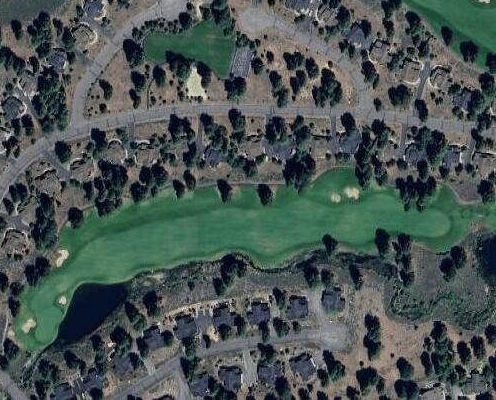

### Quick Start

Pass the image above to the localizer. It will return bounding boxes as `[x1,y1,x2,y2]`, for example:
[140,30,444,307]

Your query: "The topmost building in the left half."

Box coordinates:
[82,0,107,20]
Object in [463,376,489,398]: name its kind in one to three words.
house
